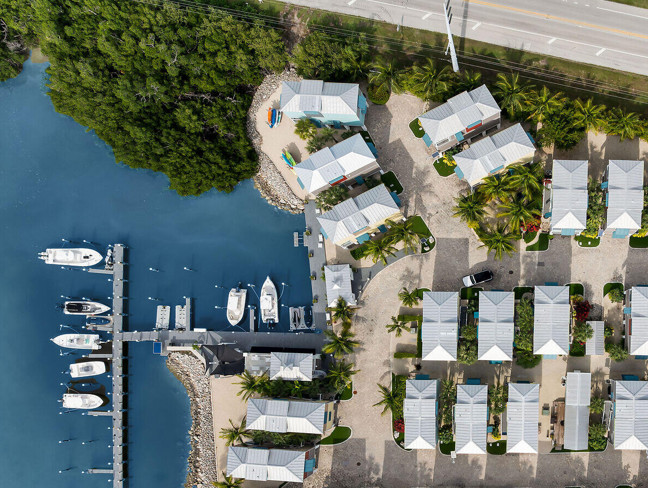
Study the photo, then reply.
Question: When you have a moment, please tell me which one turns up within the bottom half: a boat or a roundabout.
boat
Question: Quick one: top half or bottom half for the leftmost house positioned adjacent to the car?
bottom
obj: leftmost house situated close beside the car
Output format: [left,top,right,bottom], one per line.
[421,287,464,366]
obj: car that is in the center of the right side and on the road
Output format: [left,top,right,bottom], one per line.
[463,269,493,288]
